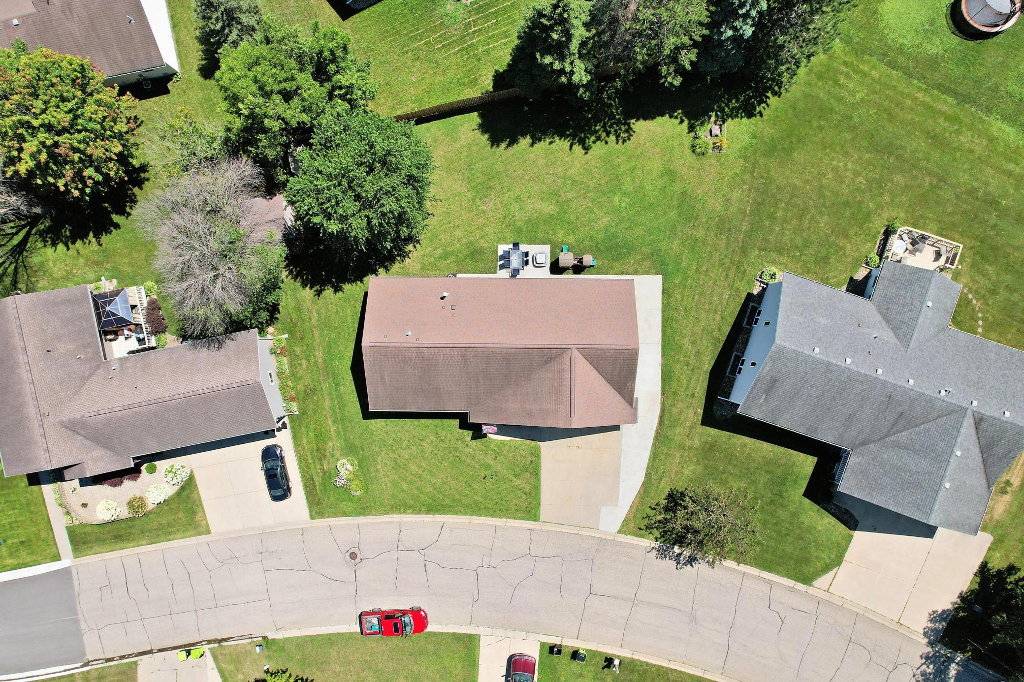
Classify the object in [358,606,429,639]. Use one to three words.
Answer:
truck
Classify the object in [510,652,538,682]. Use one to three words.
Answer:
car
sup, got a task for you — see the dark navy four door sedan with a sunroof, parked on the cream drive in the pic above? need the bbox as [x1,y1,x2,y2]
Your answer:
[259,444,293,504]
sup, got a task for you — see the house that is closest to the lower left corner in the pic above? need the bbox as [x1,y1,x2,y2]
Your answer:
[0,285,302,480]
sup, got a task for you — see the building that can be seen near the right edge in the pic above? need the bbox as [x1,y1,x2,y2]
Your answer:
[711,259,1024,537]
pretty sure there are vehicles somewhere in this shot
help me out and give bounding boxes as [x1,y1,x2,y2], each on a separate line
[259,444,293,504]
[358,606,429,639]
[510,652,538,682]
